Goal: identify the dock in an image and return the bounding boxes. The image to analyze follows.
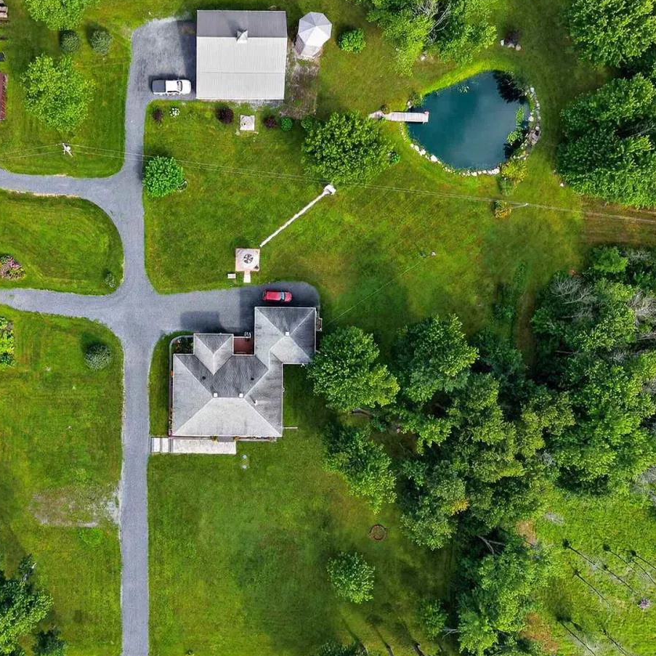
[371,111,429,124]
